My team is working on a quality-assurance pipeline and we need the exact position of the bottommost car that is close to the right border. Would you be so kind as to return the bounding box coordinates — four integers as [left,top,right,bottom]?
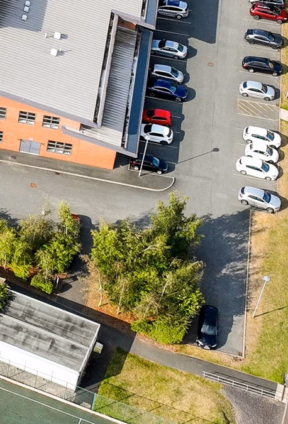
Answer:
[236,183,284,213]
